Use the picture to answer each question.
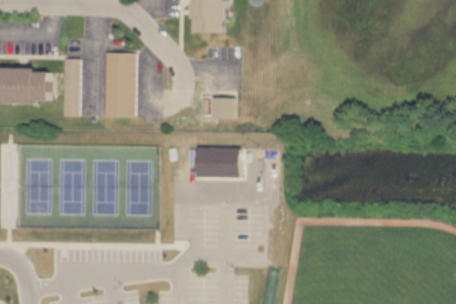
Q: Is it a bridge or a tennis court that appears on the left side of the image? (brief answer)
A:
tennis court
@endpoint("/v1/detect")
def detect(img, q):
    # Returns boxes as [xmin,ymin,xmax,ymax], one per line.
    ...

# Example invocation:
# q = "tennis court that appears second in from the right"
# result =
[92,159,120,215]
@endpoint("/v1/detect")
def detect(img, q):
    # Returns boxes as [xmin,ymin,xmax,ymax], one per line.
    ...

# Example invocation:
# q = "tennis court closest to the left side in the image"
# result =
[26,158,52,214]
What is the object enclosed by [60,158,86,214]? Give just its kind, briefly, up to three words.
tennis court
